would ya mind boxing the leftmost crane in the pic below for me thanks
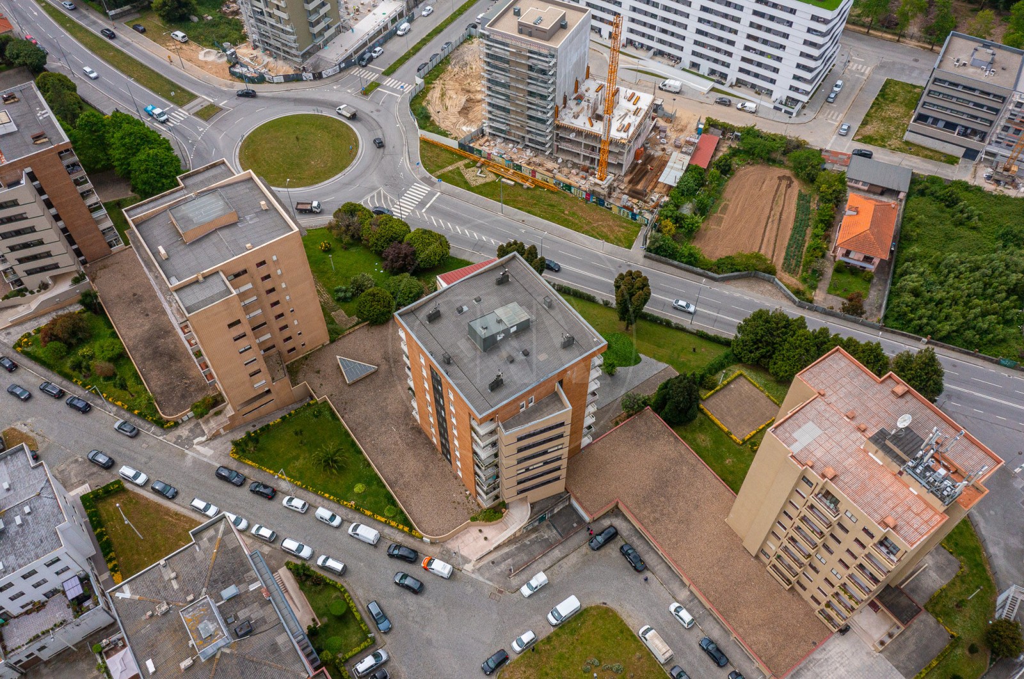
[585,13,627,188]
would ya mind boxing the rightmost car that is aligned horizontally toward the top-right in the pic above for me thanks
[852,148,874,160]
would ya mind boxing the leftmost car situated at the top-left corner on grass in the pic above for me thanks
[129,21,148,33]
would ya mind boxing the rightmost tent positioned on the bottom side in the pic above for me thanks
[107,648,142,679]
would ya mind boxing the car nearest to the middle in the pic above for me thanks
[541,256,564,272]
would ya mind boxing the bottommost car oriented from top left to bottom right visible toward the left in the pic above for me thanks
[363,598,394,635]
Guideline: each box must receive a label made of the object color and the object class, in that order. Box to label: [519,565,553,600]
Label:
white truck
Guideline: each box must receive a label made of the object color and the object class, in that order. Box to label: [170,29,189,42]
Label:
white vehicle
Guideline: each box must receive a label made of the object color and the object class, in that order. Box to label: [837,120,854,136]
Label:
gray car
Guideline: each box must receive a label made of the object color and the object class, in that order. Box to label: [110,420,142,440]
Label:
gray car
